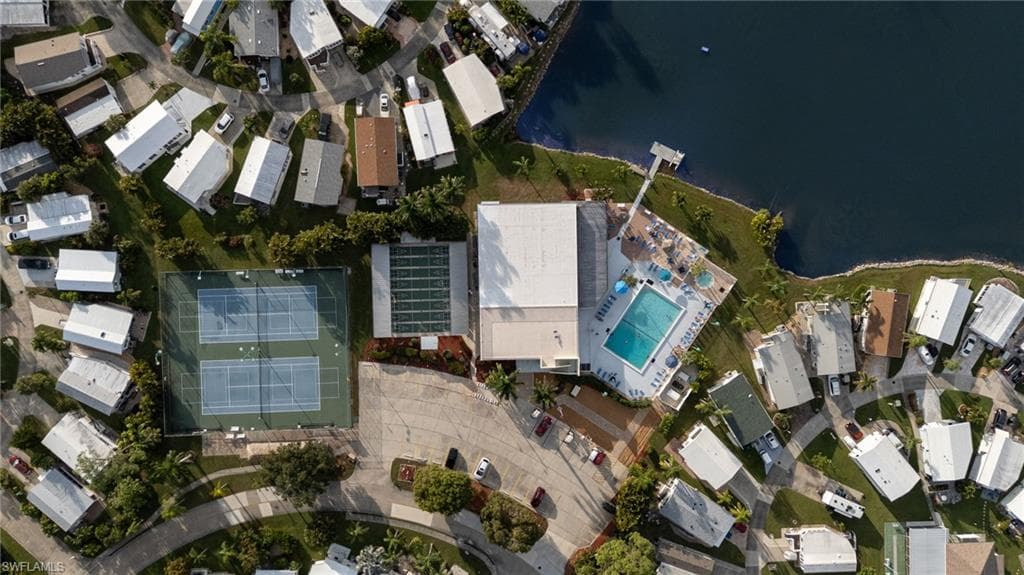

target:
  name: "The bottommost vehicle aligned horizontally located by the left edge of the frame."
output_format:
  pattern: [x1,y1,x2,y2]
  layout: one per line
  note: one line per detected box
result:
[19,258,50,270]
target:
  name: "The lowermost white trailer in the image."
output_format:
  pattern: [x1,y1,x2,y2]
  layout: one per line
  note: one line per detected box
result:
[819,491,873,523]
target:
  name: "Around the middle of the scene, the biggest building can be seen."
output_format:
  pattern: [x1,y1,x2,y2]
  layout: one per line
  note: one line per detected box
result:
[478,201,608,379]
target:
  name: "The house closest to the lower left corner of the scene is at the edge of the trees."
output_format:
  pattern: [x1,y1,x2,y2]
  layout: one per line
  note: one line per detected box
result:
[26,467,101,532]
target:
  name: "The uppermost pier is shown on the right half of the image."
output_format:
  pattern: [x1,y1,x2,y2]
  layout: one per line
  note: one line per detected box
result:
[648,143,676,179]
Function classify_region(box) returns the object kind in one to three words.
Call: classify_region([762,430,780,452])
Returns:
car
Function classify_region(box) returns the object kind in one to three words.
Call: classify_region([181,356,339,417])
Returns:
tennis court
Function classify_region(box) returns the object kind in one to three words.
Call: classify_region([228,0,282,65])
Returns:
house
